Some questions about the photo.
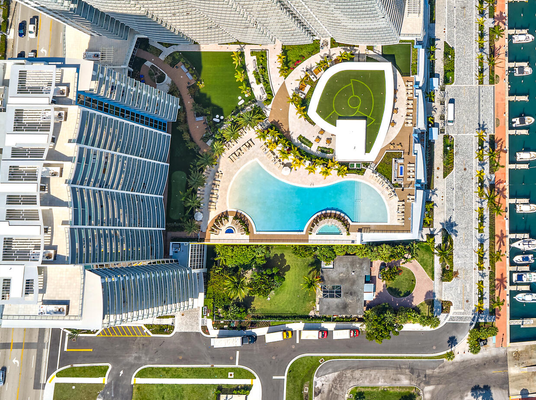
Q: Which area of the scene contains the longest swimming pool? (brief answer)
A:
center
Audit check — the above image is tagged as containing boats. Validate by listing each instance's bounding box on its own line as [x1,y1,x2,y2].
[513,152,536,161]
[514,203,536,213]
[513,255,536,264]
[514,293,536,303]
[511,117,534,126]
[513,273,536,283]
[511,240,536,251]
[511,34,534,43]
[510,66,532,75]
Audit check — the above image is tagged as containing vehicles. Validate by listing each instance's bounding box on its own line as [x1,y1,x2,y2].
[0,367,6,384]
[207,335,256,347]
[17,49,25,58]
[378,262,386,279]
[298,329,327,340]
[331,329,359,340]
[18,22,26,37]
[28,19,38,37]
[262,331,292,343]
[28,48,38,59]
